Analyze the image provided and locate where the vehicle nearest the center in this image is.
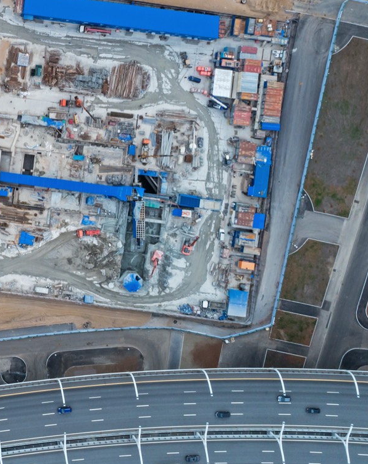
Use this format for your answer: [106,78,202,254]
[179,235,204,258]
